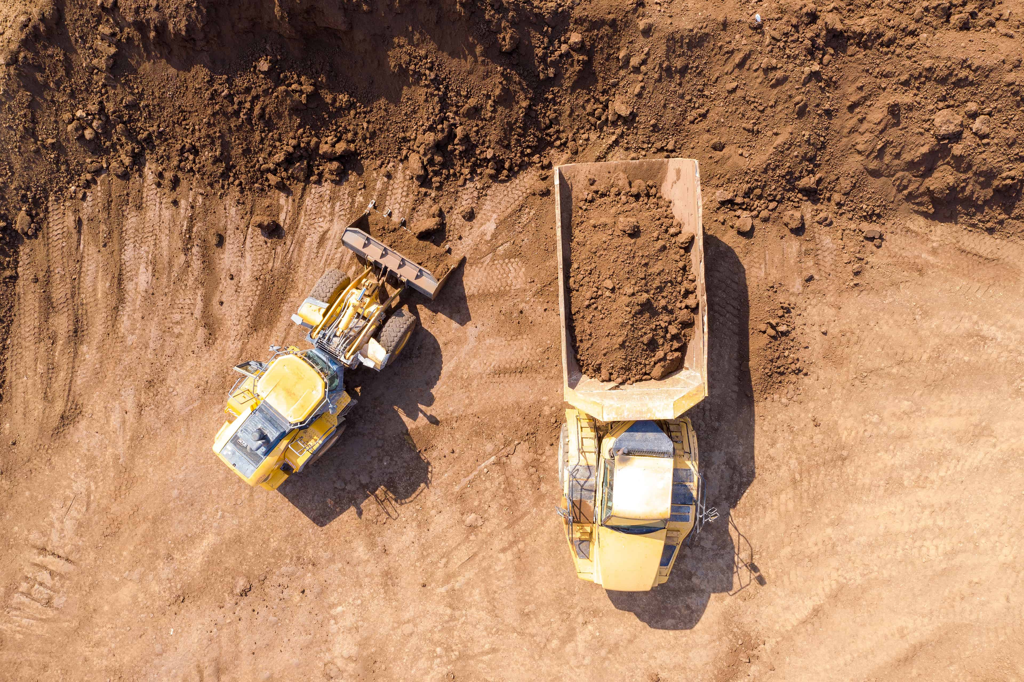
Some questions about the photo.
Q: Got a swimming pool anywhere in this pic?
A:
No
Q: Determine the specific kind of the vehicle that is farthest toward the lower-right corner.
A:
truck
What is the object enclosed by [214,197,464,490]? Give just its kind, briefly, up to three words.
work vehicle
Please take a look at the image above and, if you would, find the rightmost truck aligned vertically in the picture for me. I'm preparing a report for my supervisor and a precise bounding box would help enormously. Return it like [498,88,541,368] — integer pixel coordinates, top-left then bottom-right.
[555,160,721,592]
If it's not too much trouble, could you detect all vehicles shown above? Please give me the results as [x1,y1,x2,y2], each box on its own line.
[214,197,464,490]
[555,160,721,592]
